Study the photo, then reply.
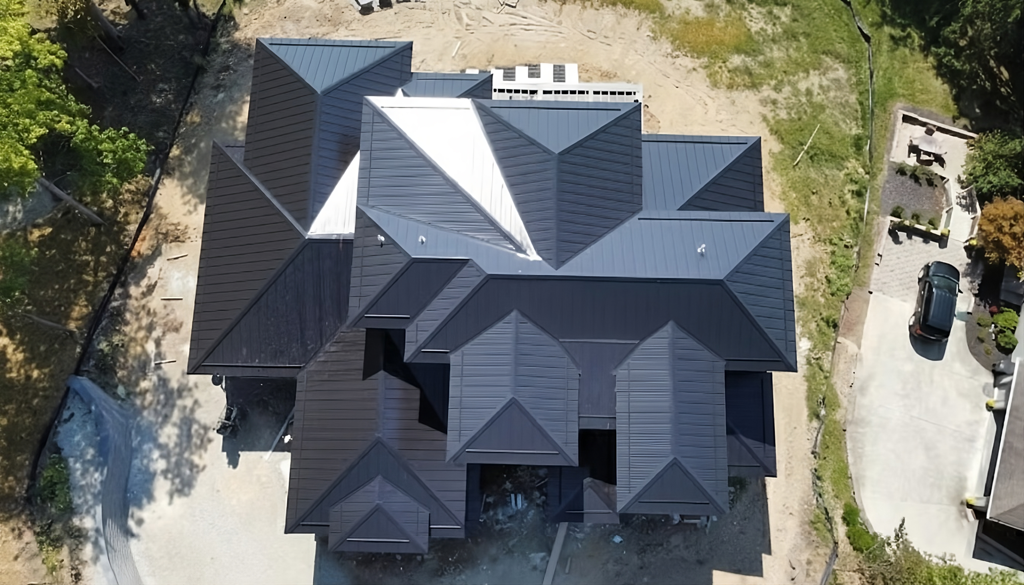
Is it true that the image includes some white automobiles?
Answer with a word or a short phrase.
No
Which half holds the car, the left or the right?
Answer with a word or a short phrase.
right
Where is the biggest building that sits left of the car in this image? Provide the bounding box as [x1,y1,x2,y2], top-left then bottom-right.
[186,37,797,555]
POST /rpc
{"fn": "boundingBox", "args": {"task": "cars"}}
[909,262,962,349]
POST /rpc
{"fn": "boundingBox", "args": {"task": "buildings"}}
[973,262,1024,538]
[186,37,797,555]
